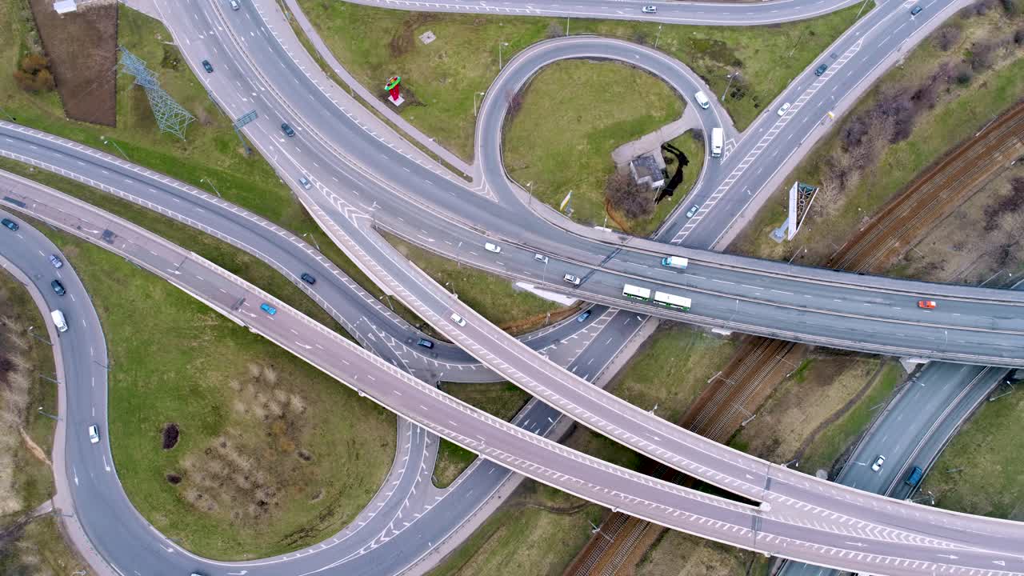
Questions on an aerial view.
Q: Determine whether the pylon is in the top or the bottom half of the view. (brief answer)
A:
top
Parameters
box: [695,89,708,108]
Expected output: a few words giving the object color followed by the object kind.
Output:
white vehicle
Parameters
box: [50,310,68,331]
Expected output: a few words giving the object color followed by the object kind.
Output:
white vehicle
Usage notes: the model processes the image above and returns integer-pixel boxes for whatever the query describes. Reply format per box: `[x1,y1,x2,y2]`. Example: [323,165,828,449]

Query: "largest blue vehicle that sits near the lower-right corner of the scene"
[904,466,922,487]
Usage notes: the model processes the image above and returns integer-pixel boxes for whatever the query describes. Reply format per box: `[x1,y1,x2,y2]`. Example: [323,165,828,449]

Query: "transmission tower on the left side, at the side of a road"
[0,47,198,201]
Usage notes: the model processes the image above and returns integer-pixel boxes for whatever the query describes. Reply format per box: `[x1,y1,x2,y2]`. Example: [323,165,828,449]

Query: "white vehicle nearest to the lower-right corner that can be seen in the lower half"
[870,454,885,472]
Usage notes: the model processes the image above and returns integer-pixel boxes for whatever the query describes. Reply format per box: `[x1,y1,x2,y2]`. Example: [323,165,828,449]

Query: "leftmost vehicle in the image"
[1,218,18,230]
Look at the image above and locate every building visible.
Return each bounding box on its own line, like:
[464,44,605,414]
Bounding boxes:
[54,0,81,20]
[631,155,663,192]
